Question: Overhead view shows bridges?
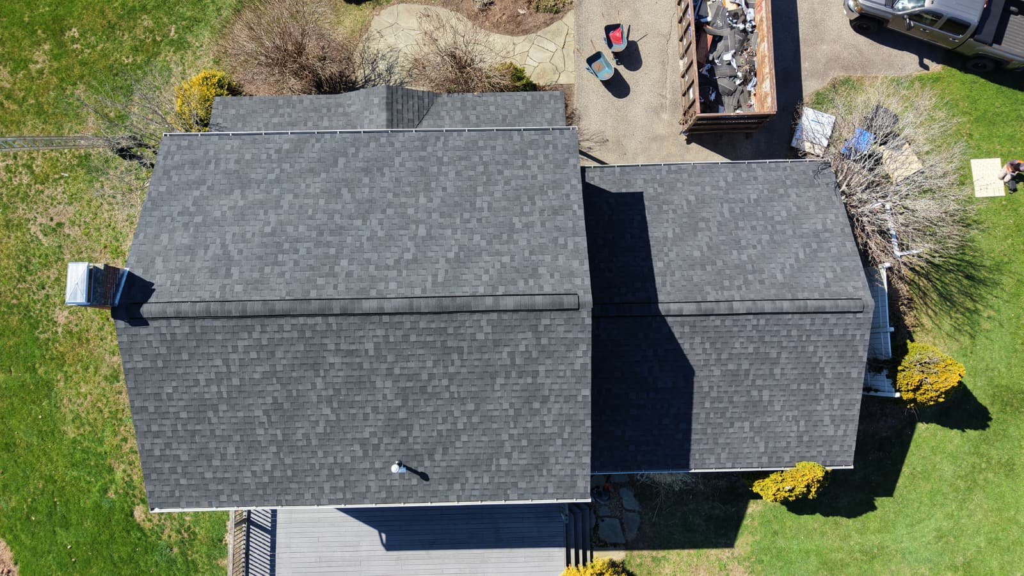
No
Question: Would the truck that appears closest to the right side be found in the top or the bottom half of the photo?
top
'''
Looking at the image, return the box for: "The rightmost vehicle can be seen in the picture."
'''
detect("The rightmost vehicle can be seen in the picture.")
[836,0,1024,77]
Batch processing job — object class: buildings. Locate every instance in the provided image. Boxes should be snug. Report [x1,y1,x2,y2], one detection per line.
[64,83,874,517]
